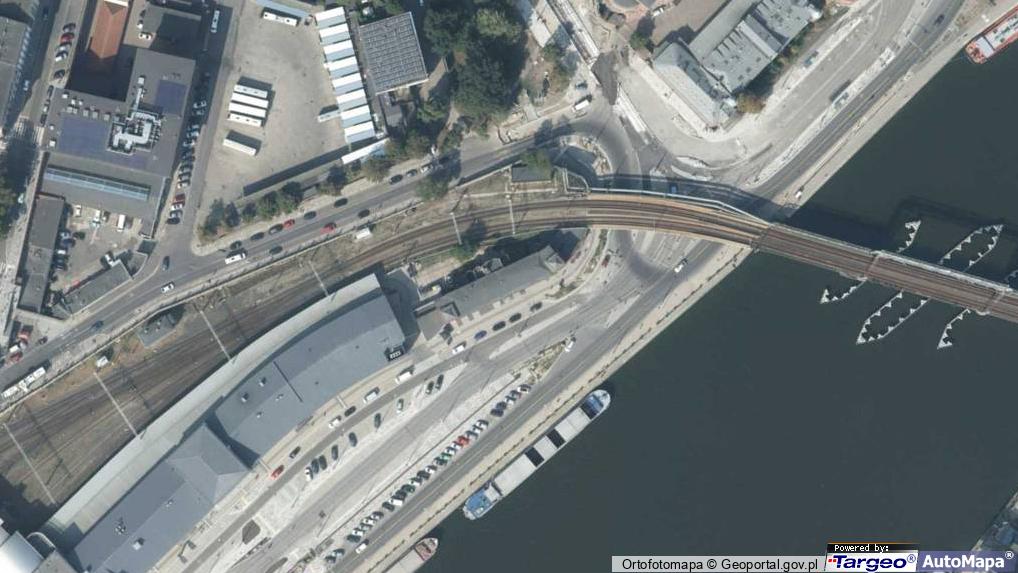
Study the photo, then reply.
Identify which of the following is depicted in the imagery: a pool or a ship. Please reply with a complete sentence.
Of the two, only a ship appears.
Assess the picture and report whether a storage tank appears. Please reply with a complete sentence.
No, no storage tank is visible in the view.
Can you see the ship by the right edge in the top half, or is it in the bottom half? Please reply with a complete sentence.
It is in the top half that the ship by the right edge appears.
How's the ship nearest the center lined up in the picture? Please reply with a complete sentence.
The ship nearest the center has been laid out on a diagonal relative to the frame.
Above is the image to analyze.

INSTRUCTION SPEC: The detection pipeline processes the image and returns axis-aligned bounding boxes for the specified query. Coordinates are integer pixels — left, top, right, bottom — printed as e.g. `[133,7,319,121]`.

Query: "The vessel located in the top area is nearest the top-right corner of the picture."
[954,6,1018,63]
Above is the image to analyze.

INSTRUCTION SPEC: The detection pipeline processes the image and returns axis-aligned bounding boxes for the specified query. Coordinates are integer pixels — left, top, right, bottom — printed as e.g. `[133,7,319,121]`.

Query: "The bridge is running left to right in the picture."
[585,188,1018,321]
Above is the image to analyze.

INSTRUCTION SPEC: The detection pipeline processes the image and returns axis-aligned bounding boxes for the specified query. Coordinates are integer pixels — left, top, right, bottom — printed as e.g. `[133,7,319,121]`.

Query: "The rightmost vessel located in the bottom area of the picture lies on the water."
[451,385,611,521]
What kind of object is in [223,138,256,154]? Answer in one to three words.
vehicle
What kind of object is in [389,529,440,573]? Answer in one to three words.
ship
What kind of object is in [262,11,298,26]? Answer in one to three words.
vehicle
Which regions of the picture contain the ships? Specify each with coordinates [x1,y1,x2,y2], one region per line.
[451,385,611,521]
[389,529,440,573]
[954,6,1018,63]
